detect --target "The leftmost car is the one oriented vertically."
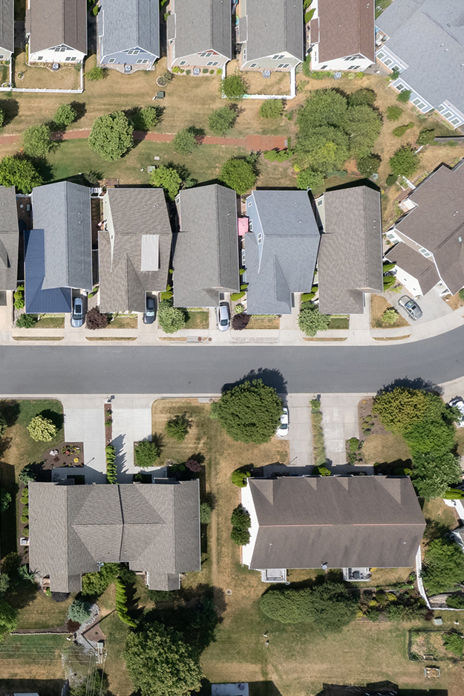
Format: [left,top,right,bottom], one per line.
[71,295,84,328]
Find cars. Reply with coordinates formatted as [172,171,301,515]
[448,399,464,426]
[142,295,158,325]
[215,303,231,331]
[274,407,289,438]
[396,292,422,322]
[71,295,84,328]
